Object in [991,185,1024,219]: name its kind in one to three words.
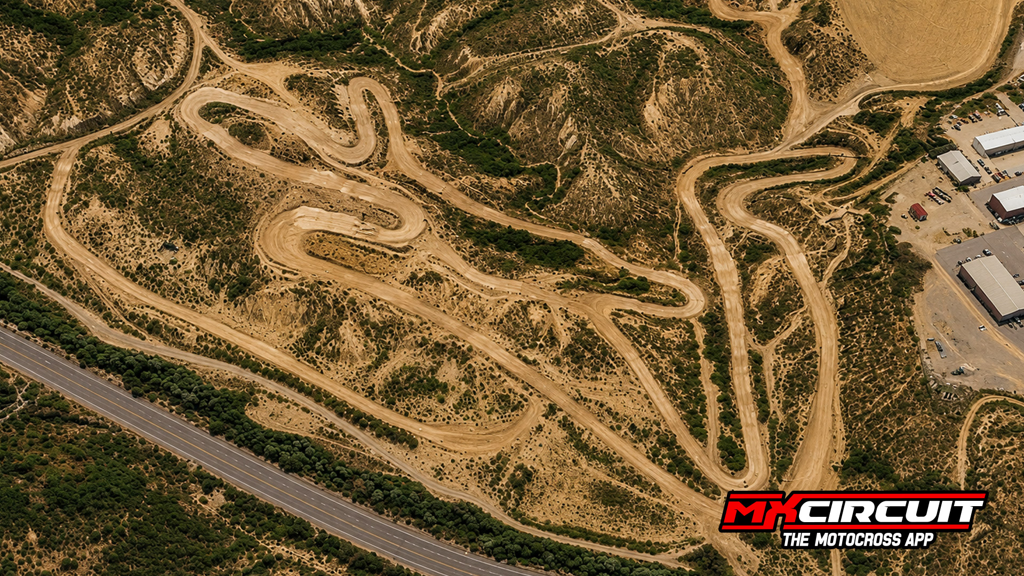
building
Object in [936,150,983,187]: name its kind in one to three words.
building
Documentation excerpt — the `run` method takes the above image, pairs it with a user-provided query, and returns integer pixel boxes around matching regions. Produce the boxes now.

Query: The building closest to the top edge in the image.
[973,125,1024,158]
